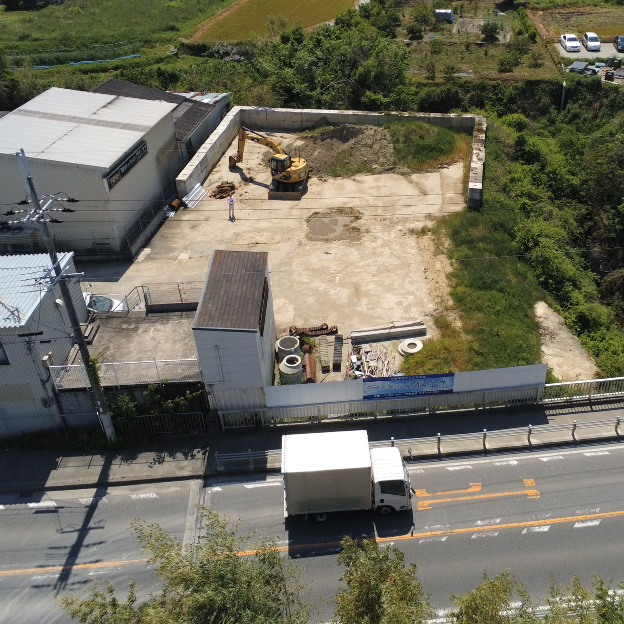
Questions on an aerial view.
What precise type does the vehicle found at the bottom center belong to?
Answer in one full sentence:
The vehicle found at the bottom center can be classified as a truck.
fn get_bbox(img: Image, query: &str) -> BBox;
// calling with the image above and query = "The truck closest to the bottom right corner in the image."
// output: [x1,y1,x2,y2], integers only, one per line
[278,430,418,524]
